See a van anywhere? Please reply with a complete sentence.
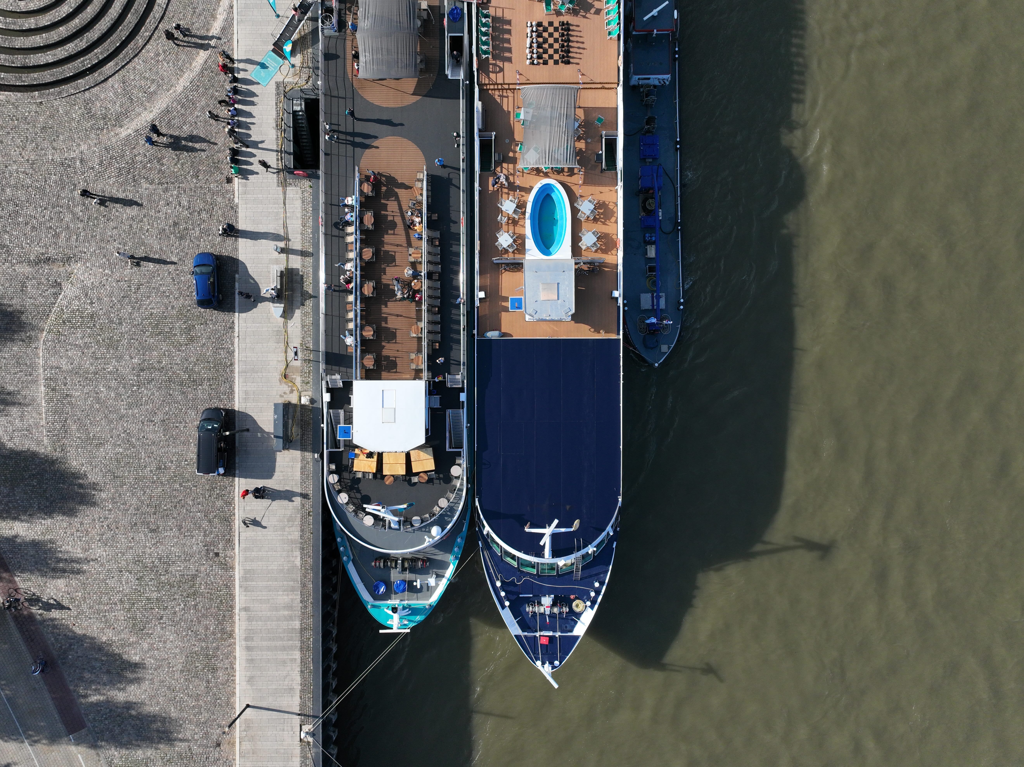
Yes, the image includes a van.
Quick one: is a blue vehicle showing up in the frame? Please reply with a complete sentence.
Yes, the picture does show a blue vehicle.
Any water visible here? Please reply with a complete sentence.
Yes, there is water in the image.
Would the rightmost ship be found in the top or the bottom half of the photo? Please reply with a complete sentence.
Seen from above, the rightmost ship lies in the top half of the view.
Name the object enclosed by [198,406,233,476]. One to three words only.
van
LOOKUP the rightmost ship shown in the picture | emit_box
[623,0,685,367]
